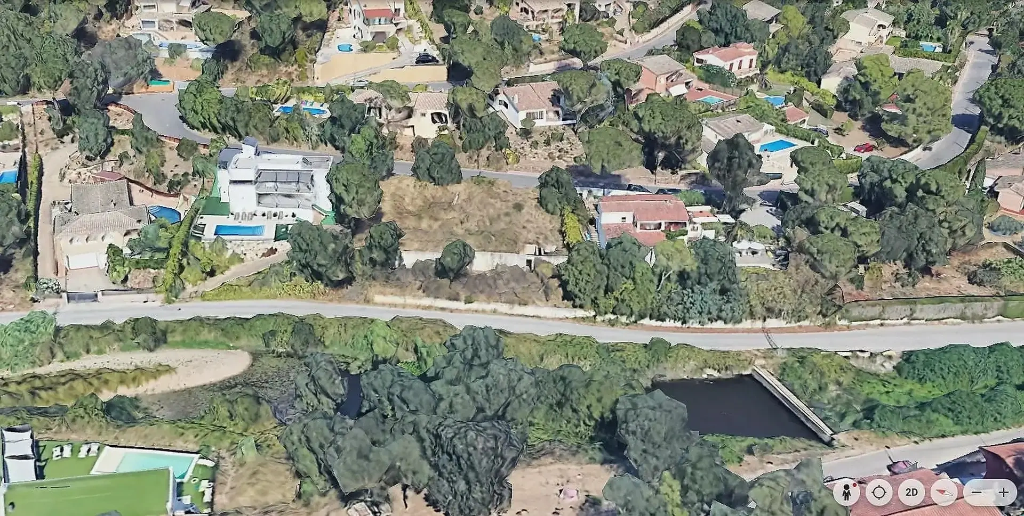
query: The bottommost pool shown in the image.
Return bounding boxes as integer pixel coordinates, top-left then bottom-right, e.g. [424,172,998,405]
[110,451,197,481]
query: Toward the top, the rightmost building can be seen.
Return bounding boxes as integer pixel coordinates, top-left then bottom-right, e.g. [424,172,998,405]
[971,159,1024,217]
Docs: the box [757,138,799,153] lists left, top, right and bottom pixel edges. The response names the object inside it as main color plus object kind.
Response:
blue swimming pool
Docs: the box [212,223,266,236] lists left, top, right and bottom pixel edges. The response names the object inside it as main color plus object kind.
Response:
blue swimming pool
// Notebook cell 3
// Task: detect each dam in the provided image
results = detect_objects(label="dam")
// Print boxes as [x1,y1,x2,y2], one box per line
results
[746,361,844,451]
